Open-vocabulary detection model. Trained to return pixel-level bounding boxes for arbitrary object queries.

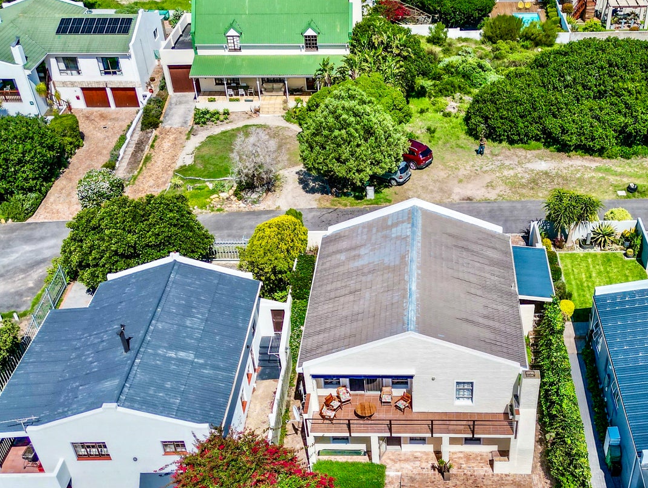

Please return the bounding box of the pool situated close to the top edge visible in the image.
[511,10,540,23]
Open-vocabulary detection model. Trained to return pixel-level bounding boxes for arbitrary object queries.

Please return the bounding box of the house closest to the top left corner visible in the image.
[0,0,159,115]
